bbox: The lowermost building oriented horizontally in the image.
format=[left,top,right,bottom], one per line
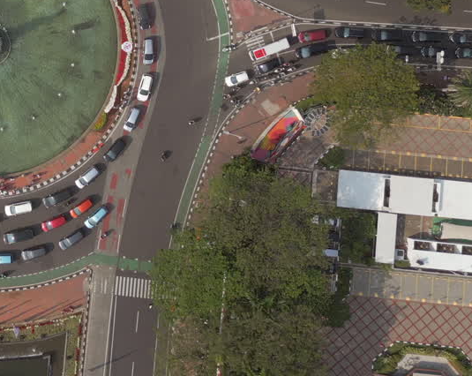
[401,236,472,272]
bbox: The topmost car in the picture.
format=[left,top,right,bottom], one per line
[139,2,153,31]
